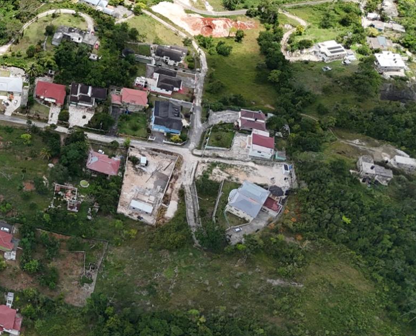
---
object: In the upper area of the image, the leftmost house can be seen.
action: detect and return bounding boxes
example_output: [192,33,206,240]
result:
[0,78,22,98]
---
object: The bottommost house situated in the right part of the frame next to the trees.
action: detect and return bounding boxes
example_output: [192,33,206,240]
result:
[226,181,283,226]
